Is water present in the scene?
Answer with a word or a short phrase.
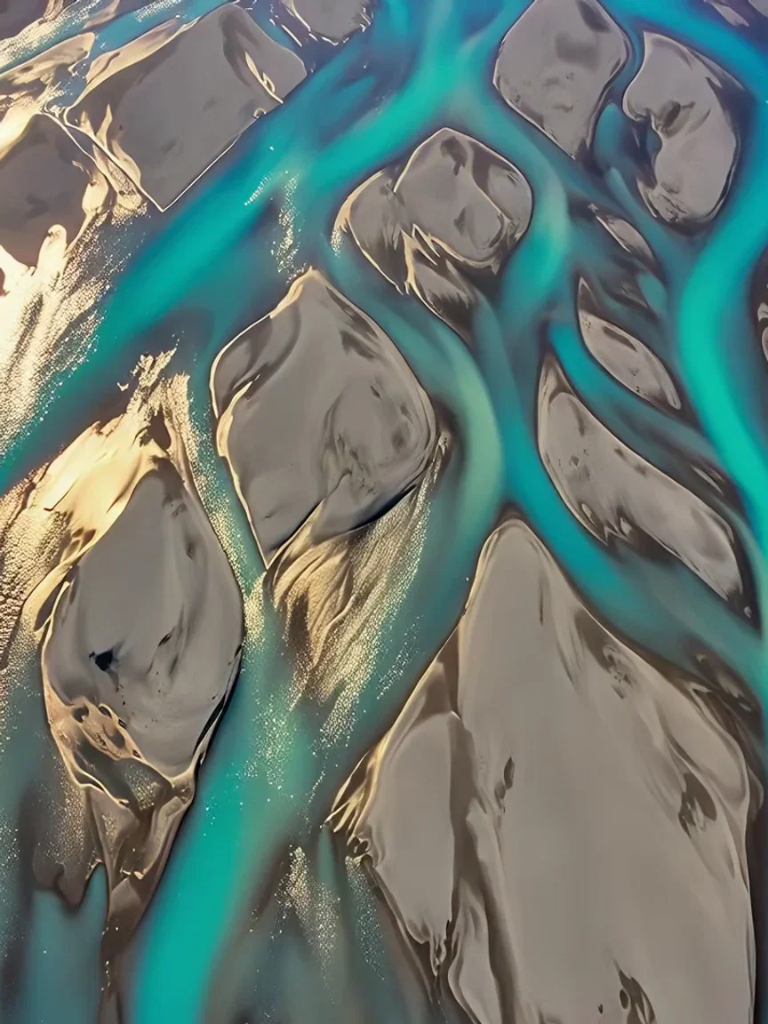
Yes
